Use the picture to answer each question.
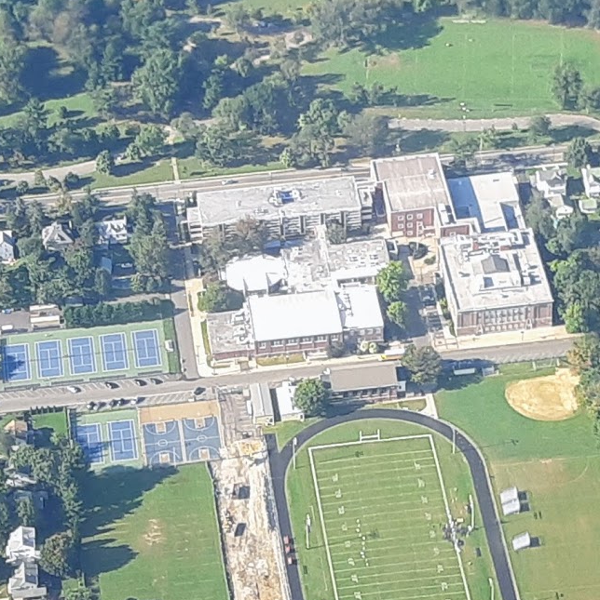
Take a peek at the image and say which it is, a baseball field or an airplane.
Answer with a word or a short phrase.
baseball field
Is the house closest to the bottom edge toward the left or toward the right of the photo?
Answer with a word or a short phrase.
left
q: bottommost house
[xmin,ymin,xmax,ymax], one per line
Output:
[11,562,46,600]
